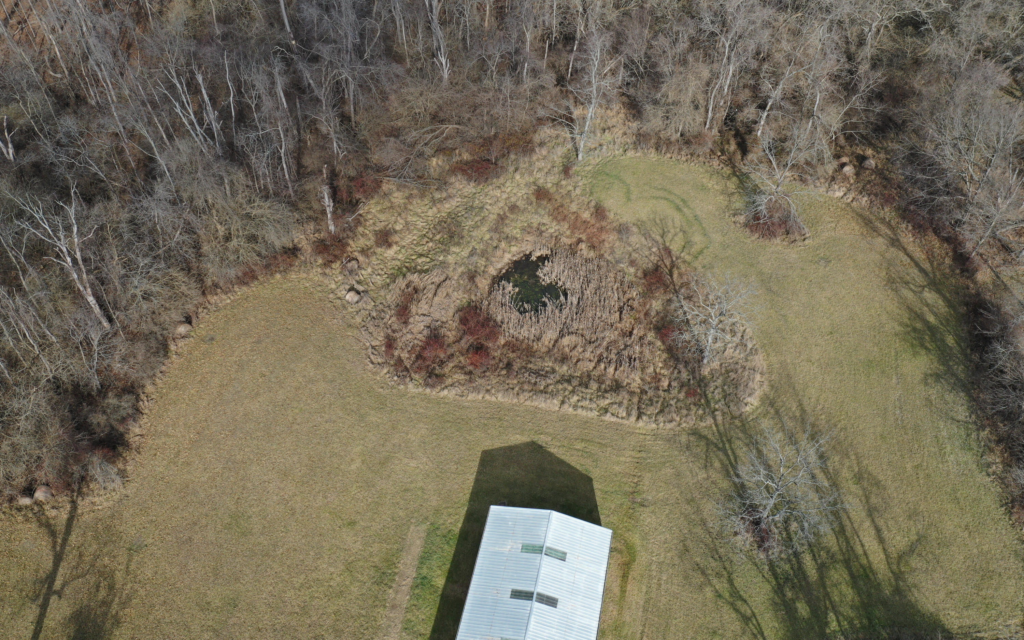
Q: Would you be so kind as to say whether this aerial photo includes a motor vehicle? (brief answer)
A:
No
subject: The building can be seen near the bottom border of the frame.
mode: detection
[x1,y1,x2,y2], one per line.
[452,504,614,640]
